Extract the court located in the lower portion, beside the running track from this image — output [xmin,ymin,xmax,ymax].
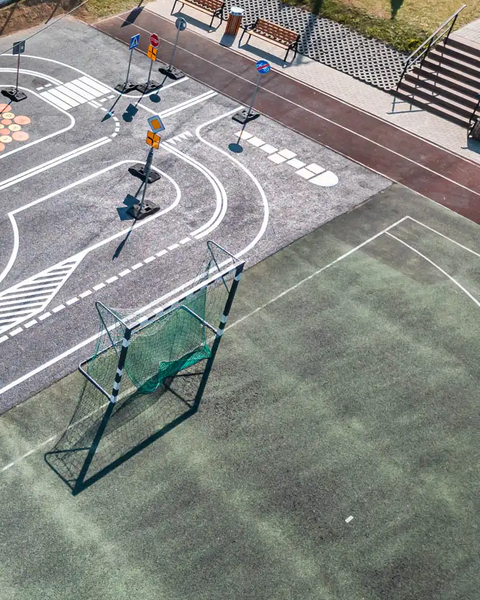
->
[0,185,480,600]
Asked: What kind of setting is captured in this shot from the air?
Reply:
sports ground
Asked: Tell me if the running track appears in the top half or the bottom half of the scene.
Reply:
top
